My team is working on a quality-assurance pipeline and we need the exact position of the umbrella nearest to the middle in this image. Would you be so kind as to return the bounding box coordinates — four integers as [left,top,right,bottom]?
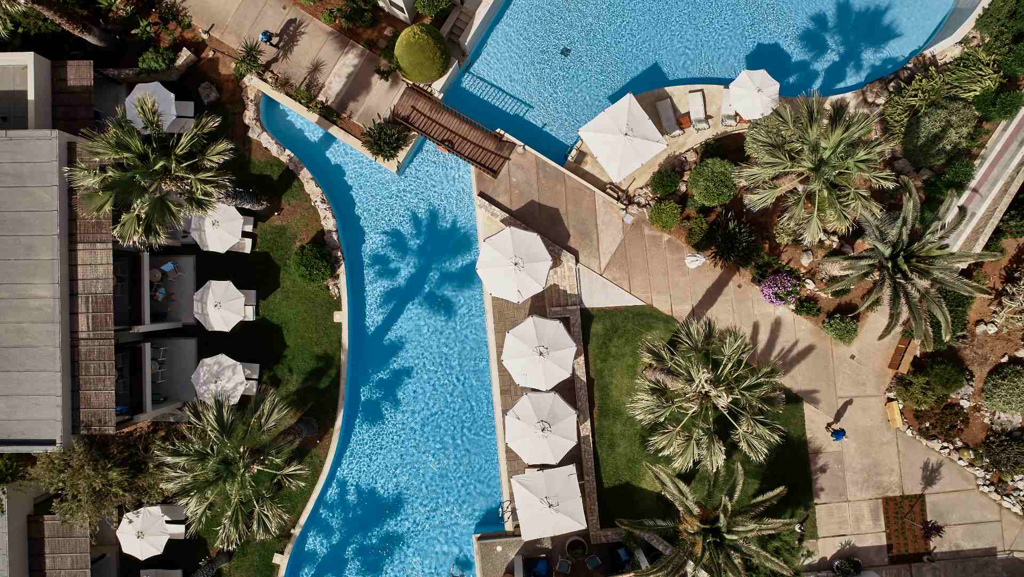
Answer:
[474,225,553,303]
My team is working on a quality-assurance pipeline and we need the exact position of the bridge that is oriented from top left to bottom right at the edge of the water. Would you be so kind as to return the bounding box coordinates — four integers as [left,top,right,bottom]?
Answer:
[385,77,528,190]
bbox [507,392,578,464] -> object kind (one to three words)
umbrella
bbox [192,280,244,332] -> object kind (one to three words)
umbrella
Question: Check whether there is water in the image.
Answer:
Yes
